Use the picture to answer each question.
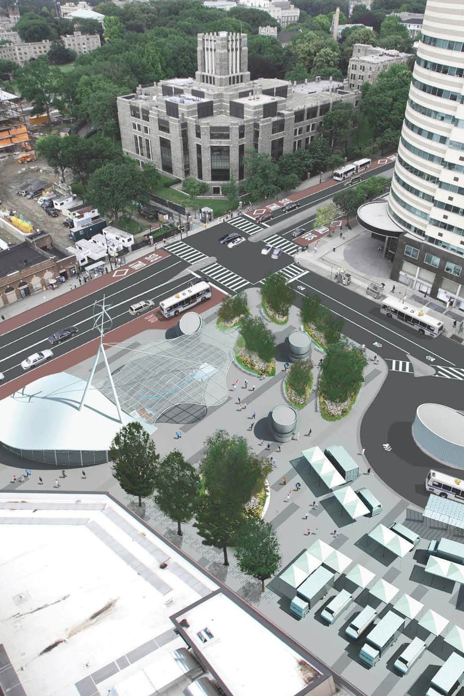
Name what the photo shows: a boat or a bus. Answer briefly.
bus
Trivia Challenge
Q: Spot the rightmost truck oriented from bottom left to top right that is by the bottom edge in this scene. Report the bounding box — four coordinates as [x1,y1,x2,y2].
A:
[421,648,464,696]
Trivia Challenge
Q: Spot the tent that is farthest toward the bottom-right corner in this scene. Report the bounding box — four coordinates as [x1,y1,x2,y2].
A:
[438,621,464,656]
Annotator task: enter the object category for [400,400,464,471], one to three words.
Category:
house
